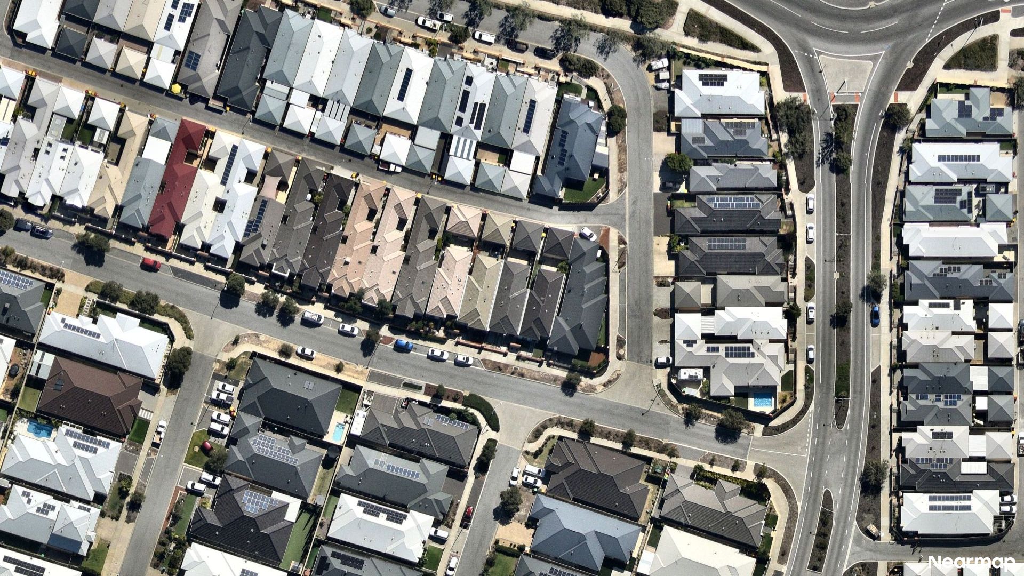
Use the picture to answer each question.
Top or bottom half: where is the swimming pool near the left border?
bottom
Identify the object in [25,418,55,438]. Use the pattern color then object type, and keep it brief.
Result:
blue swimming pool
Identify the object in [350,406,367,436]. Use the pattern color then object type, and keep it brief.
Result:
white camper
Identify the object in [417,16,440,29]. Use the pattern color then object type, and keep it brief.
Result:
white vehicle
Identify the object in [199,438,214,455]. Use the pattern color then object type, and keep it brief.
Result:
red car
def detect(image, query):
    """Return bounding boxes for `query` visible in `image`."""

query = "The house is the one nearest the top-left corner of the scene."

[13,0,65,48]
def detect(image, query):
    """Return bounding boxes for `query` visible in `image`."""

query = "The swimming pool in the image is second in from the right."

[331,421,346,444]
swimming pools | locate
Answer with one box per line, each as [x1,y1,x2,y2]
[25,418,55,438]
[752,392,774,407]
[331,421,346,444]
